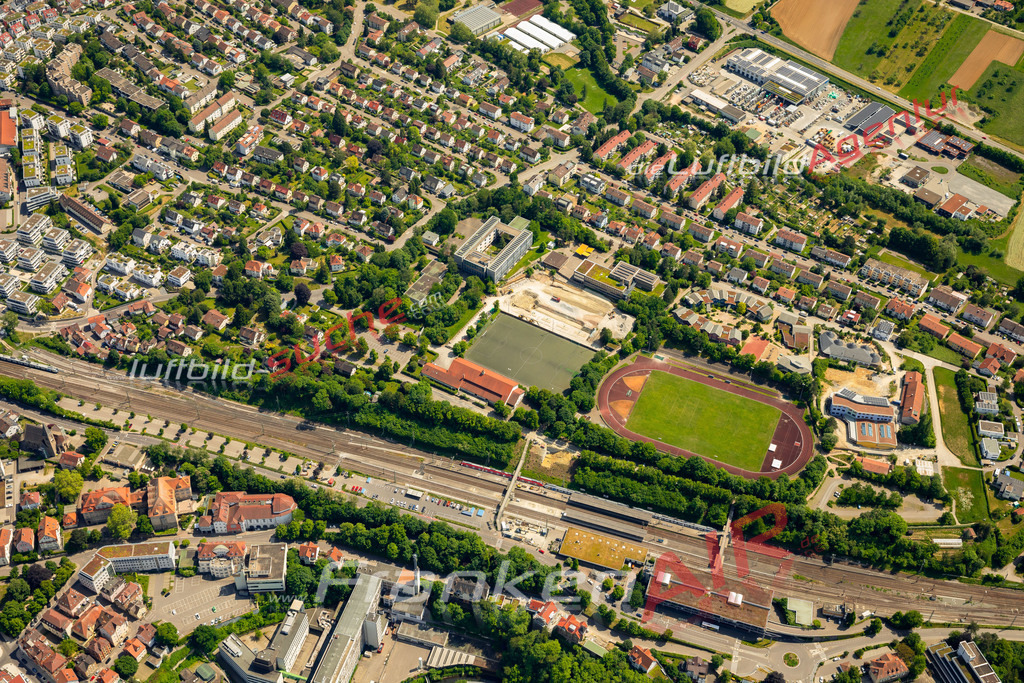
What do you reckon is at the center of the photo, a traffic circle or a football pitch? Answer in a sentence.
The one visible at the center of the photo is a football pitch.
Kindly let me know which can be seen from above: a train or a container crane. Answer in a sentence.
I can see a train in this picture.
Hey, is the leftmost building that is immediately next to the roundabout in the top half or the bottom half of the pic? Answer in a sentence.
The bottom half of the photo is where the leftmost building that is immediately next to the roundabout is.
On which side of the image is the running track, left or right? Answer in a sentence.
The running track is on the right side of the image.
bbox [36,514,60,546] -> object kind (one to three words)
house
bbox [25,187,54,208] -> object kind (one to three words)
building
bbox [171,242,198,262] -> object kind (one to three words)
house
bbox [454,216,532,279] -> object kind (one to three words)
building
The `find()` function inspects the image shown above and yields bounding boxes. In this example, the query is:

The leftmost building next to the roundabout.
[645,559,773,635]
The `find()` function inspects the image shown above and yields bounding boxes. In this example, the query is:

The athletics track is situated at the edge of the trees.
[597,363,814,480]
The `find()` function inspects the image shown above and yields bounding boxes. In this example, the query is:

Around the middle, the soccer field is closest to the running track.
[465,312,593,392]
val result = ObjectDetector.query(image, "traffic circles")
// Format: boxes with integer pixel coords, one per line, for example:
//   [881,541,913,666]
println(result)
[765,641,816,676]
